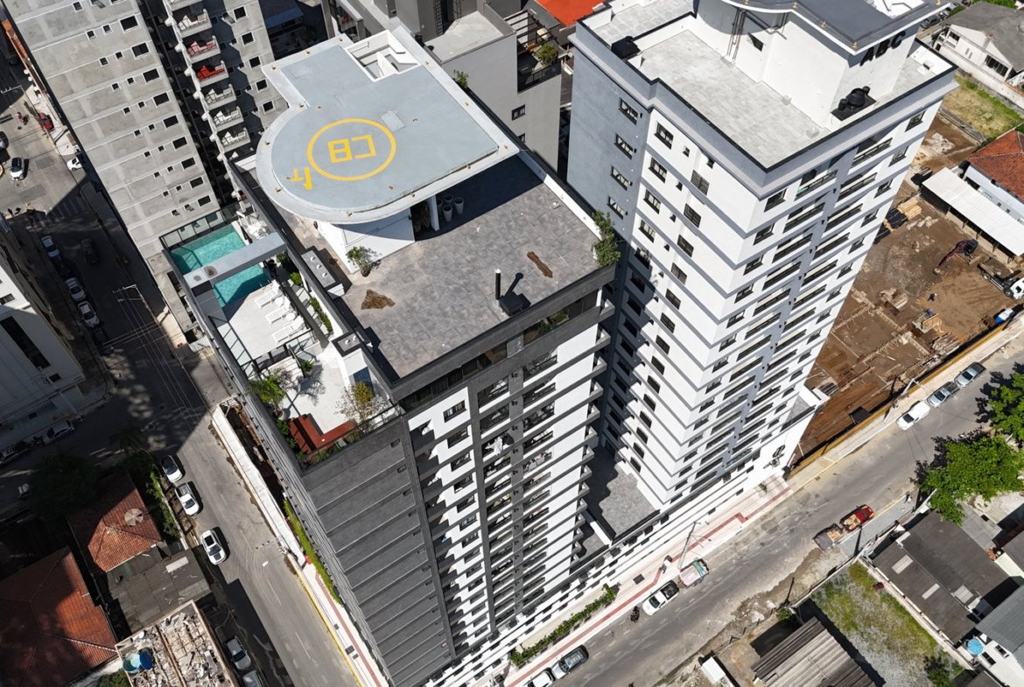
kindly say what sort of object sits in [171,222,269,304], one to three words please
swimming pool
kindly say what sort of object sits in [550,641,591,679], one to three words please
car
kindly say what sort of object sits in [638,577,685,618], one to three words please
truck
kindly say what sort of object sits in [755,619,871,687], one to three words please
shed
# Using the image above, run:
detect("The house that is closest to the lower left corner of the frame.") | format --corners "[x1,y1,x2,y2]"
[0,547,130,687]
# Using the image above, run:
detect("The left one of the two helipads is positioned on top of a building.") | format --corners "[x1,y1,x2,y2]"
[257,26,521,225]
